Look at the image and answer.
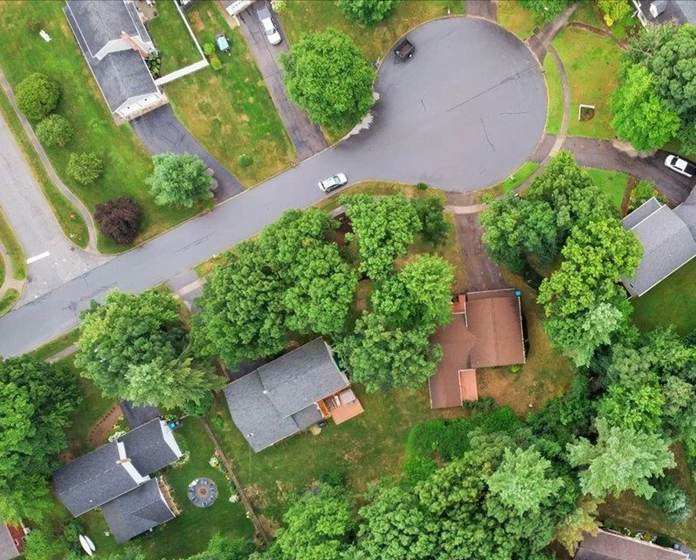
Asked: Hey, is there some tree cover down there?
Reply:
Yes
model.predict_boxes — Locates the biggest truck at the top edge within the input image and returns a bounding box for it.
[255,1,280,44]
